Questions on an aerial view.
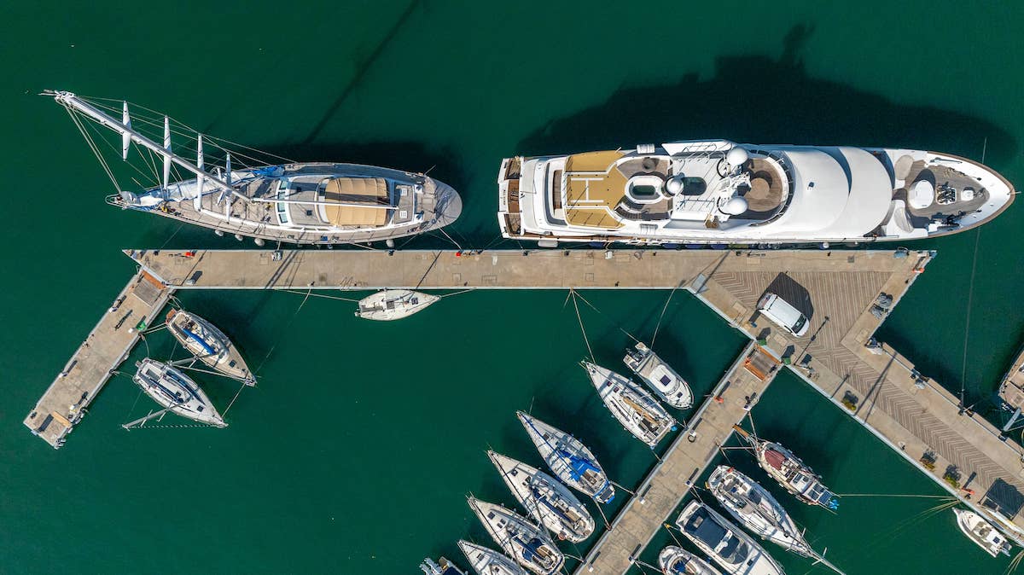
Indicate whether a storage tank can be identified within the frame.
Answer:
No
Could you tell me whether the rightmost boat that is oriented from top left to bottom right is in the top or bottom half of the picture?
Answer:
bottom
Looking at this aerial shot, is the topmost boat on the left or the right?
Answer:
left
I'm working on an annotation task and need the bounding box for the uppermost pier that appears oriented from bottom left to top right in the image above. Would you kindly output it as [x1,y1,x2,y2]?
[23,271,177,448]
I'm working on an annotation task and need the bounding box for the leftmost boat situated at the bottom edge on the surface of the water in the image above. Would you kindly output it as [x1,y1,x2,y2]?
[424,550,471,575]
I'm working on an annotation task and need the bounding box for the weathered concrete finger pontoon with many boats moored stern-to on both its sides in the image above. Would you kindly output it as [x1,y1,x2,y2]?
[566,339,784,575]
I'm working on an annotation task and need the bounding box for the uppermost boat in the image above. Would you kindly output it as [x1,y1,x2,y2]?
[27,84,484,253]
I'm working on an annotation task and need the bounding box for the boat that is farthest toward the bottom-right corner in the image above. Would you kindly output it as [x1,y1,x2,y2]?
[950,508,1012,559]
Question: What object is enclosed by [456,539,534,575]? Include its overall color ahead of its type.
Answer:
white boat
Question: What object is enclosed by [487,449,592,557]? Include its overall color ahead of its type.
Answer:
white boat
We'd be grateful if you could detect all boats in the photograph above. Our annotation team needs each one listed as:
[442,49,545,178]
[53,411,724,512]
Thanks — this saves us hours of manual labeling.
[466,127,1020,407]
[27,84,484,253]
[142,298,280,418]
[467,497,584,575]
[619,289,696,409]
[424,550,471,575]
[312,285,475,320]
[515,396,635,526]
[950,508,1012,559]
[635,546,717,575]
[572,290,685,461]
[487,449,592,557]
[456,539,534,575]
[114,334,230,428]
[666,484,782,575]
[694,466,863,575]
[720,417,956,521]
